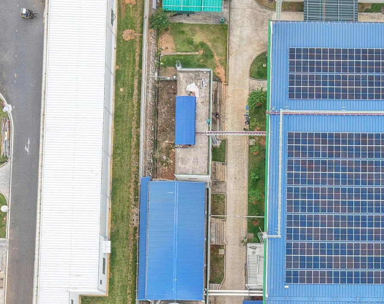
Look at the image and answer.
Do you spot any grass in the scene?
Yes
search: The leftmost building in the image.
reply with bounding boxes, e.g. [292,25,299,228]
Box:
[31,0,120,304]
